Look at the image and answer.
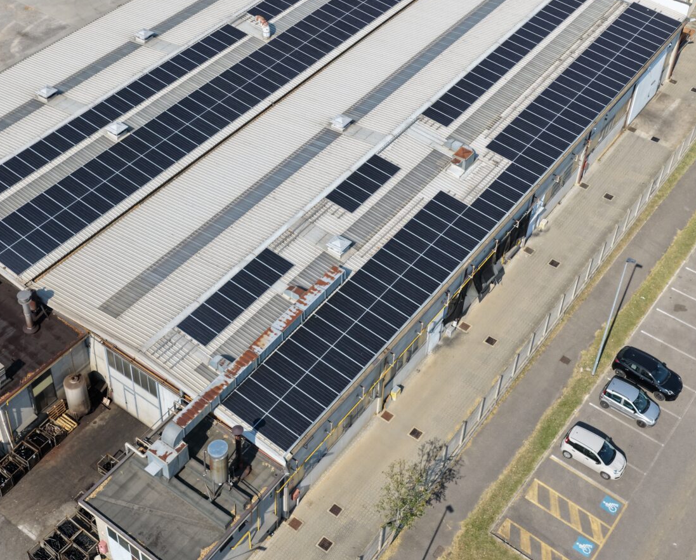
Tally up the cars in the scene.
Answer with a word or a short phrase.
3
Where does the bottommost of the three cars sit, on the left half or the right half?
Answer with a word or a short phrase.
right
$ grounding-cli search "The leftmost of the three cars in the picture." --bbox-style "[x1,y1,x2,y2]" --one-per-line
[557,421,629,479]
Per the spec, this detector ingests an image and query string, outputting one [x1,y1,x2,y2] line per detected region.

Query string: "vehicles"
[557,421,629,479]
[596,371,663,427]
[612,340,688,399]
